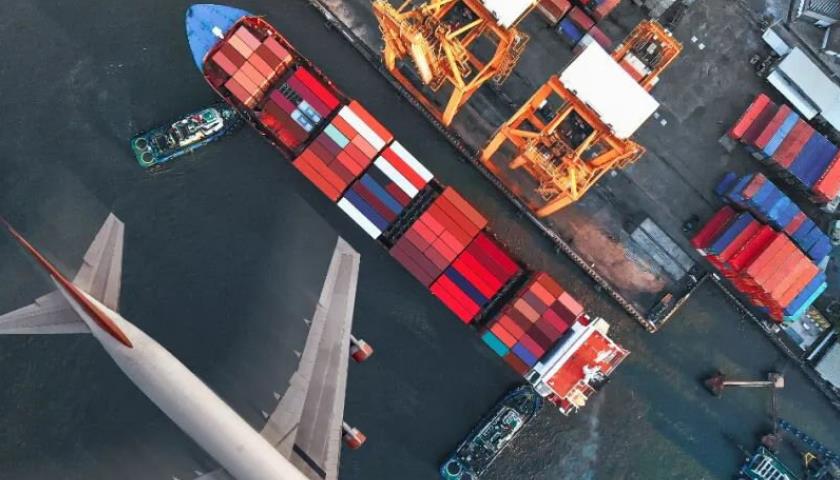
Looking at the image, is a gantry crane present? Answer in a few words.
Yes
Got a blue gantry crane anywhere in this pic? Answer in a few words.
No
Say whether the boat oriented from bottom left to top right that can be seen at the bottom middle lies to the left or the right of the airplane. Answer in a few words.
to the right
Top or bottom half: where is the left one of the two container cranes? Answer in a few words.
top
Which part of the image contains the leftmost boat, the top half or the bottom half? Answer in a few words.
top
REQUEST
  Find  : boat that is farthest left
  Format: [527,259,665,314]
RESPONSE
[137,112,241,168]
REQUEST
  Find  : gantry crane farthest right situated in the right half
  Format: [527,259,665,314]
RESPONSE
[475,11,687,217]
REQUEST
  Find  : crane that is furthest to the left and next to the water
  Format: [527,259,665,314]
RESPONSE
[362,0,543,130]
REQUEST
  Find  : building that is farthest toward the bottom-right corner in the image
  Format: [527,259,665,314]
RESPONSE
[810,336,840,391]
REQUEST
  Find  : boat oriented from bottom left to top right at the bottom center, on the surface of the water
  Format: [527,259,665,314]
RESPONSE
[439,393,530,480]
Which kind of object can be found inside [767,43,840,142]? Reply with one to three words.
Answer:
building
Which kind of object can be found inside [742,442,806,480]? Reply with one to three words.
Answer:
ship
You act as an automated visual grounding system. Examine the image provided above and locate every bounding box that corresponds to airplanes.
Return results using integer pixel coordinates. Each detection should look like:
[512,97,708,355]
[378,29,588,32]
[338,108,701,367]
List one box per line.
[0,210,377,480]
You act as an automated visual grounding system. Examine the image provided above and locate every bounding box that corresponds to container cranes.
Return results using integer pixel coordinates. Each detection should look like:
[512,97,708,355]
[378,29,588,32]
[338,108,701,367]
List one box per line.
[362,0,543,130]
[475,11,687,217]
